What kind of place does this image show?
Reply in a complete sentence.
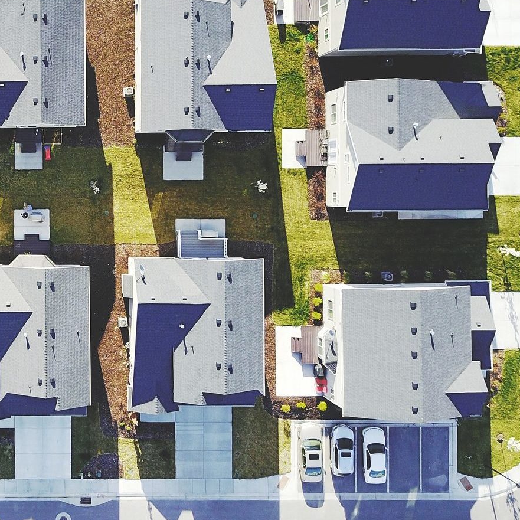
What you see here is a residential area.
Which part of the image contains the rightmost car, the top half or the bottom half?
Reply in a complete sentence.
It is in the bottom half that the rightmost car appears.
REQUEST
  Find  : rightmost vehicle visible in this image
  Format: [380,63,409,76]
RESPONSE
[360,425,389,485]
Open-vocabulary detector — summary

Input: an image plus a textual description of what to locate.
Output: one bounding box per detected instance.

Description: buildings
[121,254,266,415]
[0,247,91,420]
[326,79,500,212]
[135,0,278,148]
[320,0,491,55]
[308,279,506,426]
[0,0,86,131]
